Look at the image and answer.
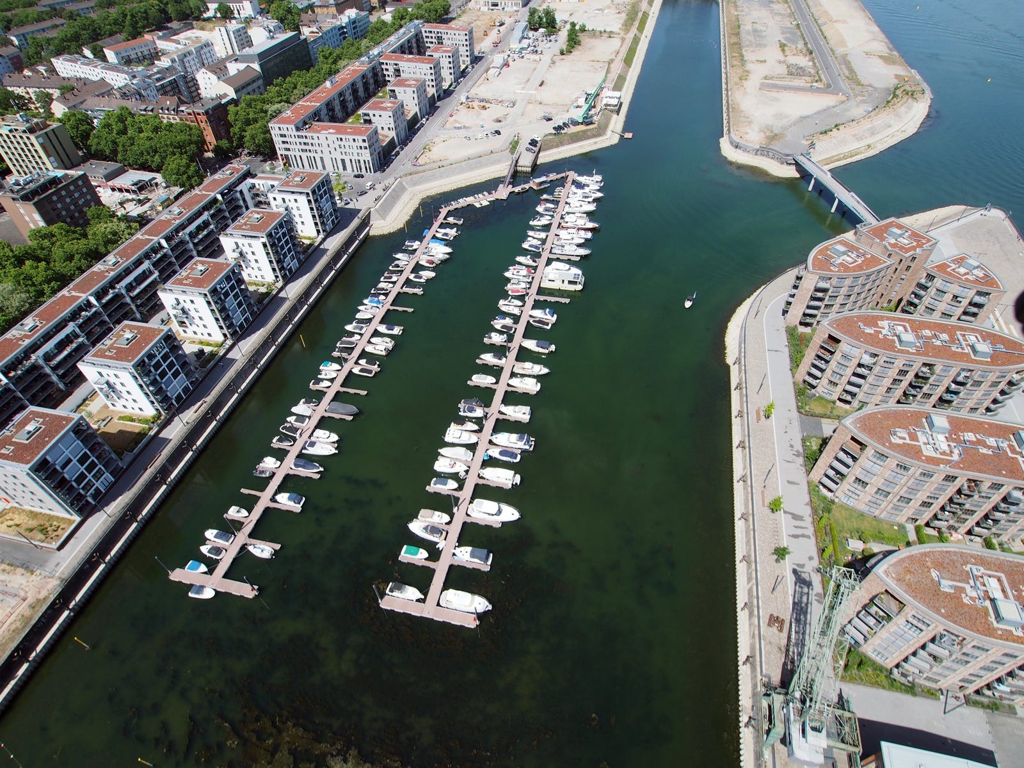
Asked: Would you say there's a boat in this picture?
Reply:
Yes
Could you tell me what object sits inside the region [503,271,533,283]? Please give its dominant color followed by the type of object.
white boat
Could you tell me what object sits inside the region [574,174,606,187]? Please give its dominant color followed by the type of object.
white boat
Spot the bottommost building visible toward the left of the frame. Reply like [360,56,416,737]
[0,403,126,521]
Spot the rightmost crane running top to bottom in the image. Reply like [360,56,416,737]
[767,561,868,768]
